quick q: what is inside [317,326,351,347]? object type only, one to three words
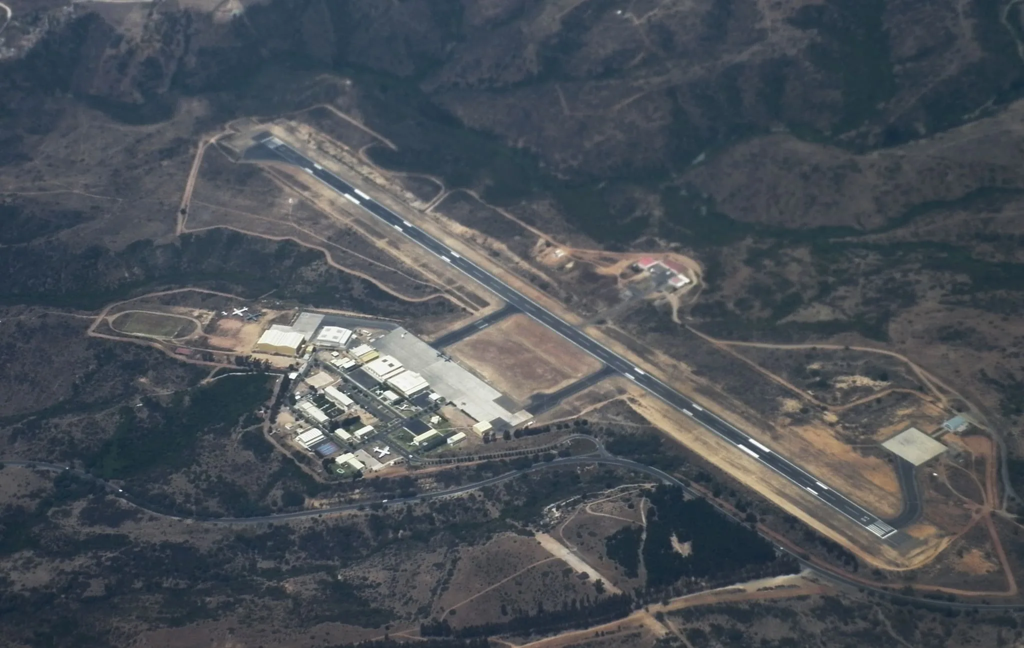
hangar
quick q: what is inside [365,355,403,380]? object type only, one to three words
hangar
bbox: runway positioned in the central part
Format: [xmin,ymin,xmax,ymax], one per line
[261,137,896,538]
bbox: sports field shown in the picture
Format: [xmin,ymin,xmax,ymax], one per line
[122,312,197,338]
